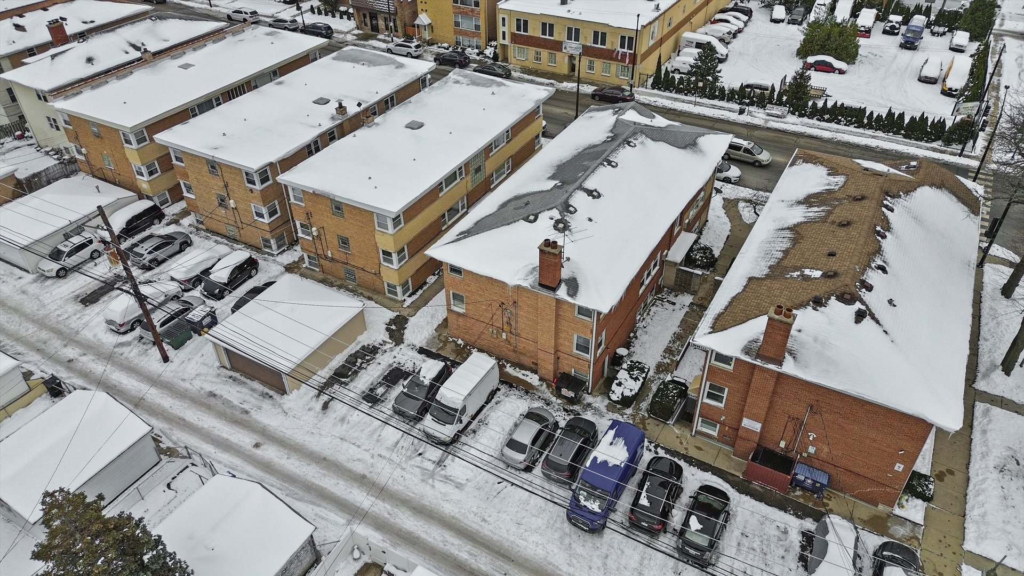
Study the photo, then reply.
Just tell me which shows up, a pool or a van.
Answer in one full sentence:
Looking from above, you can make out a van.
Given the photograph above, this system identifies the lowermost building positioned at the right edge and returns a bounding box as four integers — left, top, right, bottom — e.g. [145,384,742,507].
[690,147,981,508]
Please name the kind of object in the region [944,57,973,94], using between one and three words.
van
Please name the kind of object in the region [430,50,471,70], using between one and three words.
car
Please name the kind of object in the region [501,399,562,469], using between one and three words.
car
